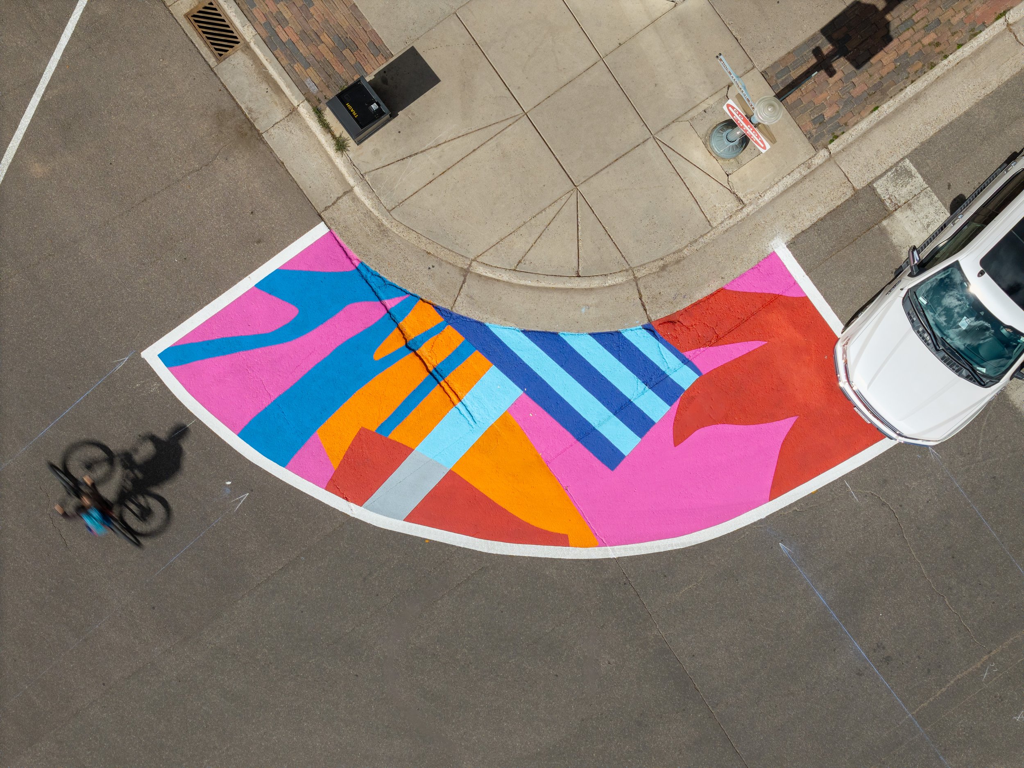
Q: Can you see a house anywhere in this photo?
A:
No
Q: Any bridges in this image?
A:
No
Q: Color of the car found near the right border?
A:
white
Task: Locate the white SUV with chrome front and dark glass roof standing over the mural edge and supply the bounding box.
[832,146,1024,447]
